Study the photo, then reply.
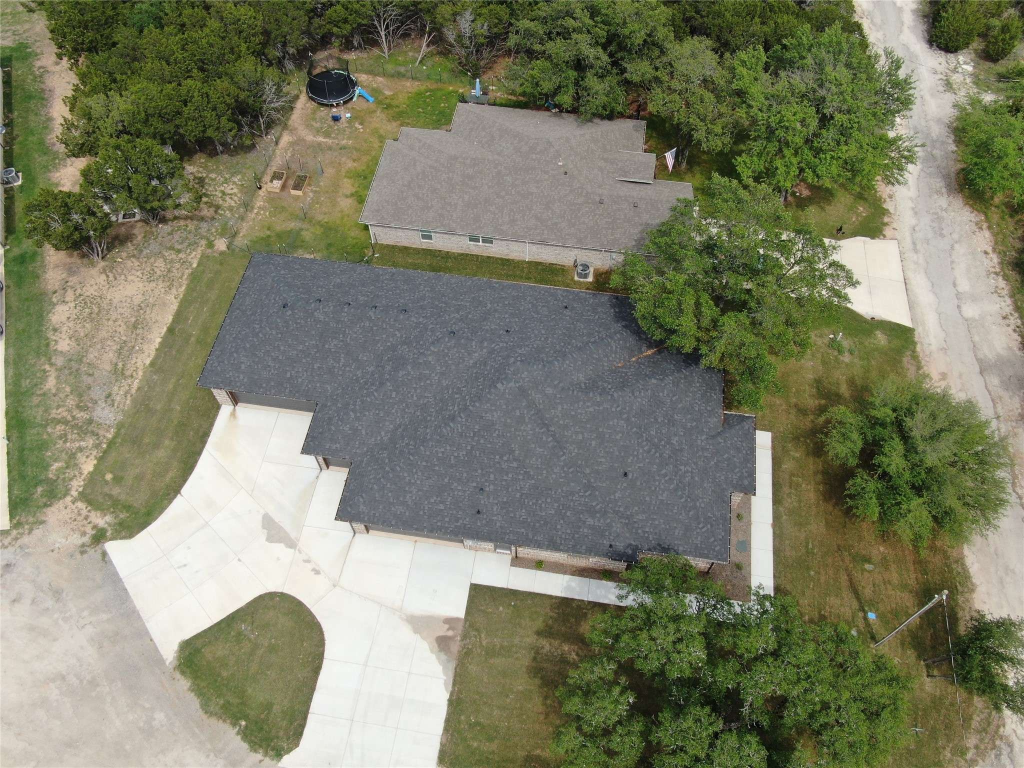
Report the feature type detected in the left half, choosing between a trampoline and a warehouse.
trampoline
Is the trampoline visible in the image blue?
No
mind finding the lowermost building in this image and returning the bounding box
[198,252,757,577]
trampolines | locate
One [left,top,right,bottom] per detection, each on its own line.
[302,56,359,107]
